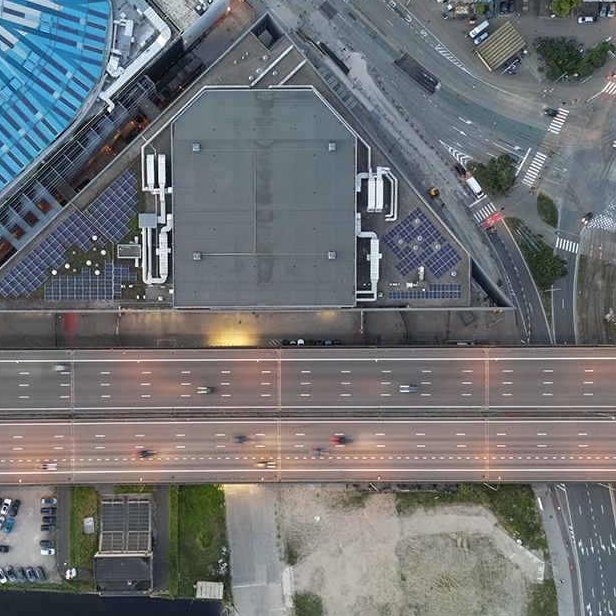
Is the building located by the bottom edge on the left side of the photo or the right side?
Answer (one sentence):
It is on the left.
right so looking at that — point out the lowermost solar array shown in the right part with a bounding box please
[389,285,462,298]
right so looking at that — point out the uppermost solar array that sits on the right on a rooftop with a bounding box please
[383,210,454,270]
